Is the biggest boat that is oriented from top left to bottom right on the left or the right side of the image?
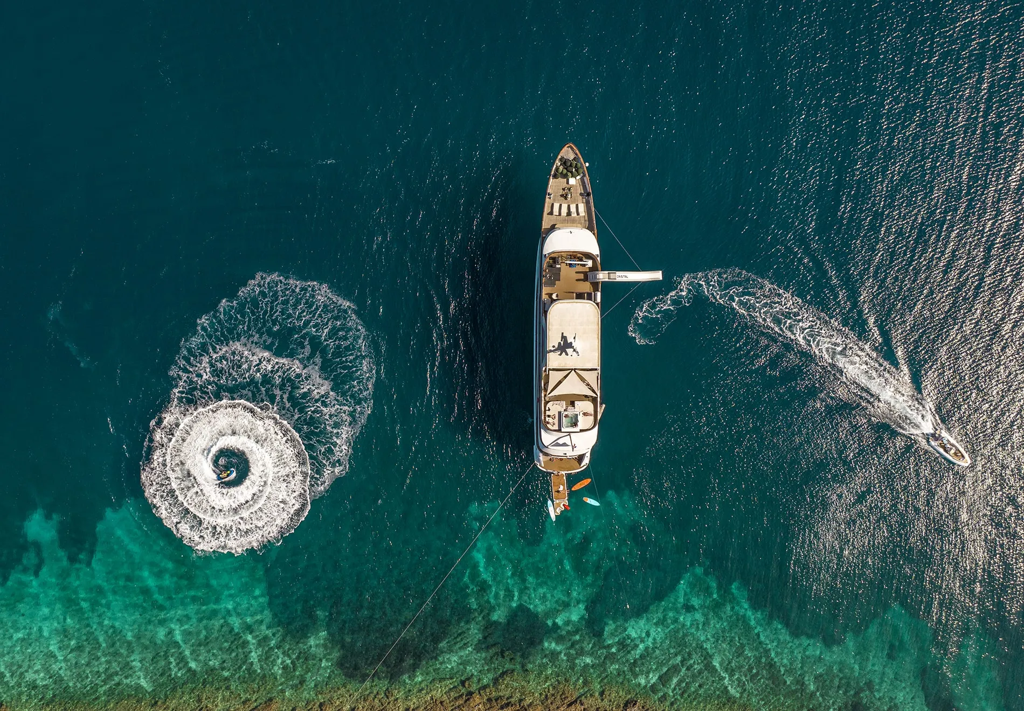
right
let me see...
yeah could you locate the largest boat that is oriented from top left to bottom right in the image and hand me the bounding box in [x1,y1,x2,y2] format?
[924,428,969,466]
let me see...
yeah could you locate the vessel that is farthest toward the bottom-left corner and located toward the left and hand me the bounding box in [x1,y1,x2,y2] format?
[216,468,236,481]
